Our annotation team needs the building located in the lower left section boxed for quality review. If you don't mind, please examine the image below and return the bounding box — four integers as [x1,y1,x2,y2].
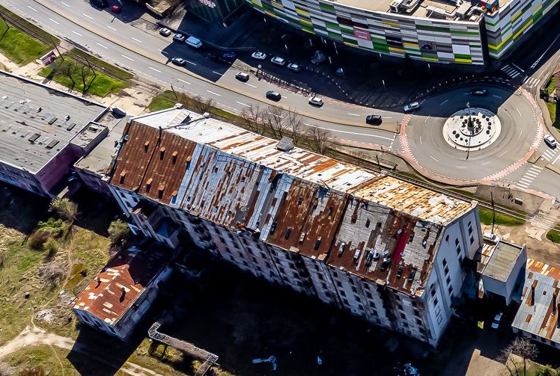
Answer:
[73,241,179,341]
